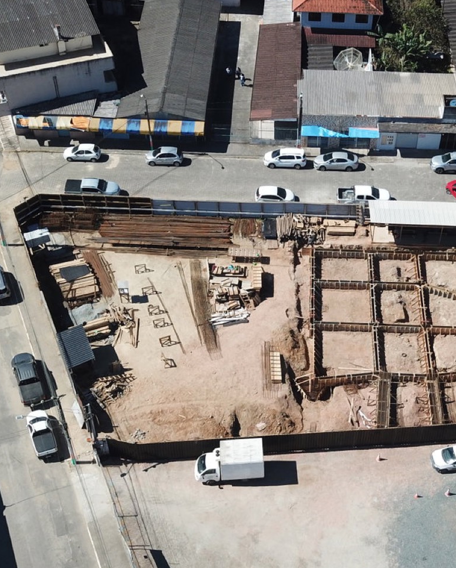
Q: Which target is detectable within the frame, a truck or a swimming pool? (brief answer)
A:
truck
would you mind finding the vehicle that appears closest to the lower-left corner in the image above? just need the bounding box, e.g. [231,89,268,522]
[25,407,65,470]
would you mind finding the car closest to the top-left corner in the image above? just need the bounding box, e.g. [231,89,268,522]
[63,143,101,161]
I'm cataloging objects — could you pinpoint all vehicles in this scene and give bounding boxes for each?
[13,354,49,412]
[256,184,295,201]
[25,407,65,470]
[63,143,101,161]
[431,440,456,474]
[0,267,11,304]
[193,439,265,485]
[145,145,184,164]
[315,151,360,170]
[445,181,456,197]
[431,151,456,172]
[335,181,392,204]
[63,174,121,197]
[264,146,307,167]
